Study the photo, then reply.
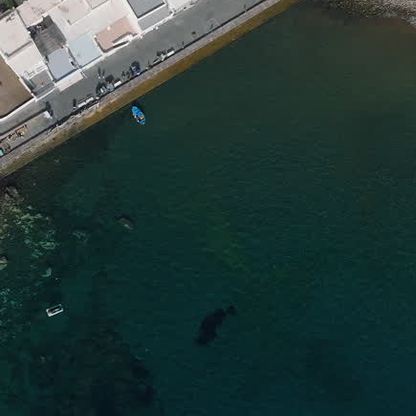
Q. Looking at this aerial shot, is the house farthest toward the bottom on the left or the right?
left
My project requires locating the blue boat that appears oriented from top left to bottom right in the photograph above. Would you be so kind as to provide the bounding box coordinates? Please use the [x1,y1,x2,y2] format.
[133,106,146,126]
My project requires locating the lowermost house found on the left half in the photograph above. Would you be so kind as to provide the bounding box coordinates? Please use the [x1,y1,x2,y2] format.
[25,67,54,99]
